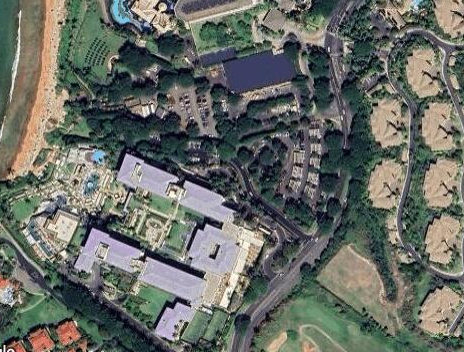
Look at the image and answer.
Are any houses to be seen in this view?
Yes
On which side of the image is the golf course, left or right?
right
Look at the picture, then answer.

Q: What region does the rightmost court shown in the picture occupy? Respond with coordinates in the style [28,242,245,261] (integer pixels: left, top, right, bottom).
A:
[203,310,230,341]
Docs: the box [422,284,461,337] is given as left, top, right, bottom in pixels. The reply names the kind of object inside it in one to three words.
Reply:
house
